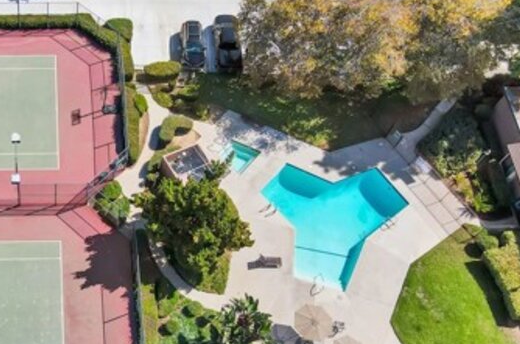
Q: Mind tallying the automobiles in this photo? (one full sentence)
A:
Altogether the scene contains 2 automobiles.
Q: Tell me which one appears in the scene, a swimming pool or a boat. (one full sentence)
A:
Visible in the photo is a swimming pool.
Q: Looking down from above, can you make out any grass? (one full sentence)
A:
Yes, some grass is visible.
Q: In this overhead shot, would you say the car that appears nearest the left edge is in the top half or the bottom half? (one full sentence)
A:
The car that appears nearest the left edge sits in the top half of the picture.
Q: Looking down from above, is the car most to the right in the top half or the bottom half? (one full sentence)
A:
You can find the car most to the right in the top half.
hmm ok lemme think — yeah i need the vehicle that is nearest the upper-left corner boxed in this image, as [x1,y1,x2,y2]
[179,19,209,71]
